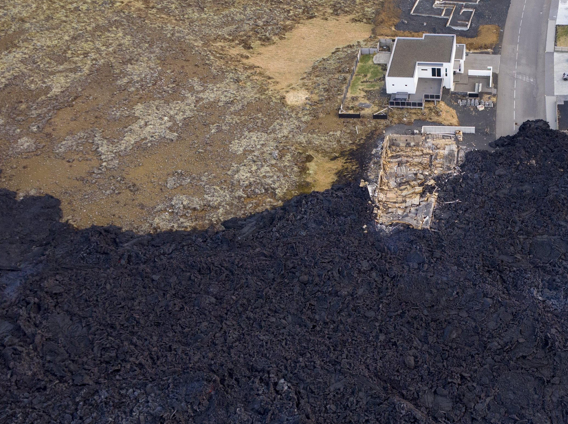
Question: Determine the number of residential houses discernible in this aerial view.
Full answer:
The number of residential houses here is 2.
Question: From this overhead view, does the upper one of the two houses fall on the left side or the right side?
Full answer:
You can find the upper one of the two houses on the right side of the picture.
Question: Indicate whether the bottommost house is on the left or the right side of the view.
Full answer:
It is on the right.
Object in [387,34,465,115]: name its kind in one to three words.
house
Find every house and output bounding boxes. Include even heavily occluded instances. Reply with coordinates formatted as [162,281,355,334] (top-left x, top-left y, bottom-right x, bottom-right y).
[374,132,463,231]
[387,34,465,115]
